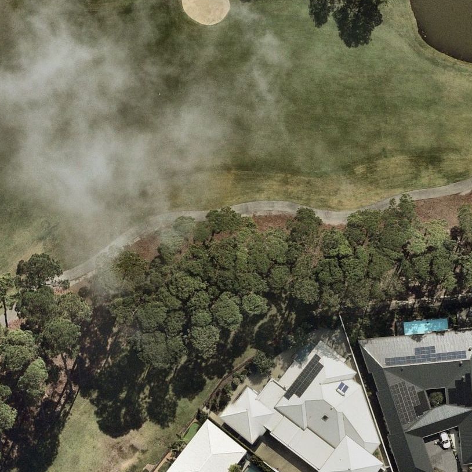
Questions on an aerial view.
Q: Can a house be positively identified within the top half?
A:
No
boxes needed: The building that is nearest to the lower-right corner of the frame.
[358,334,472,472]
